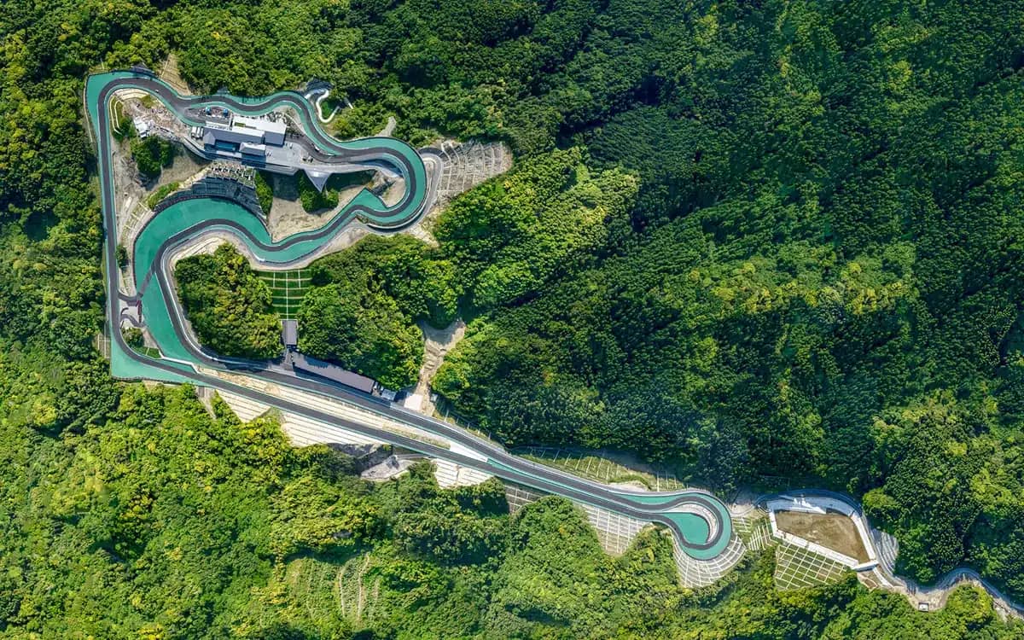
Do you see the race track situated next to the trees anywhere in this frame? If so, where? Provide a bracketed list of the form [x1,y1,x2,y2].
[98,76,725,551]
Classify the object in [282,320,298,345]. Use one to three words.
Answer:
building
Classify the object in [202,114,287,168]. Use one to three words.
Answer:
building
